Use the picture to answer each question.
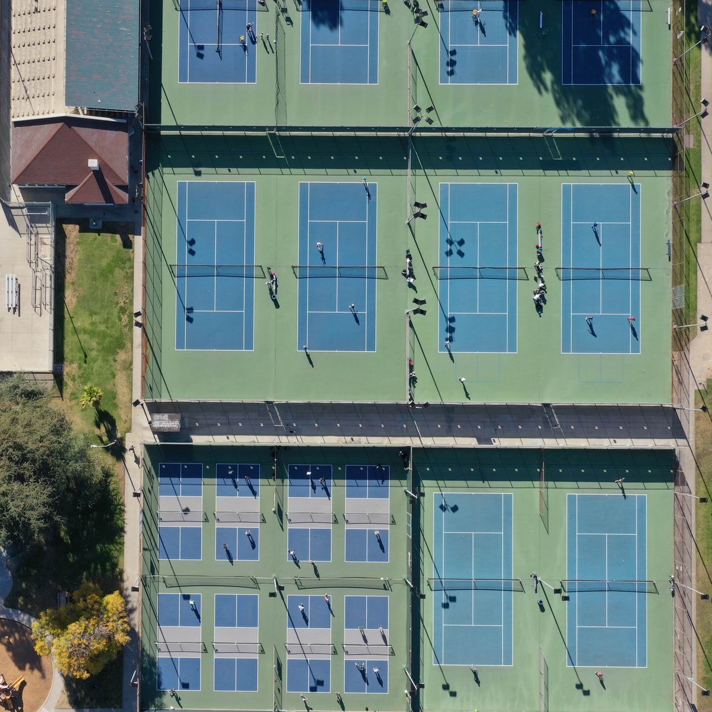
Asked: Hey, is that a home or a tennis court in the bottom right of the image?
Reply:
tennis court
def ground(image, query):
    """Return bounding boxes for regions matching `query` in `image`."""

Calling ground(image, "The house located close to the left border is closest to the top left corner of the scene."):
[12,120,129,203]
